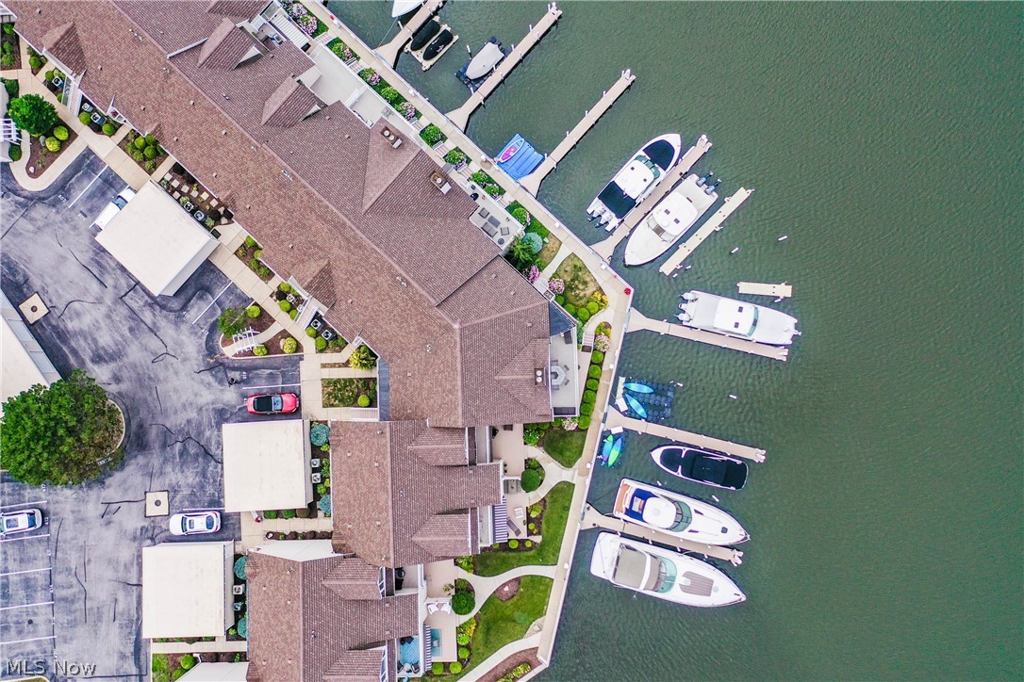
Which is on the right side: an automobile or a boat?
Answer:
boat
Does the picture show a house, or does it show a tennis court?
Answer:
house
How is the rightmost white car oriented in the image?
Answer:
horizontally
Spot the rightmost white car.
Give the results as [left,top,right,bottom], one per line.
[170,510,223,537]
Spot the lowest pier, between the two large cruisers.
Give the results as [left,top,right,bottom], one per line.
[580,502,739,563]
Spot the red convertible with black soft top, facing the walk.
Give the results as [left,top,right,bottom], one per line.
[247,391,300,417]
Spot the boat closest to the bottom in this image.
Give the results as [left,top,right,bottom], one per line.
[587,533,748,606]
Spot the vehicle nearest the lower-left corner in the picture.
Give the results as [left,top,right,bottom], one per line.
[0,507,49,538]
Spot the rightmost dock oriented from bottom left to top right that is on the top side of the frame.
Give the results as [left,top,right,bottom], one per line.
[658,187,753,276]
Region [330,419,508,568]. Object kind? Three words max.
house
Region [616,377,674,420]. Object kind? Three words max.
pier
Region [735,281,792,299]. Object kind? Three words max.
pier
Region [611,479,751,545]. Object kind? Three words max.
boat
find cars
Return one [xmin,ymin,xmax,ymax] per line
[170,510,223,537]
[247,391,300,417]
[0,507,49,538]
[93,183,142,231]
